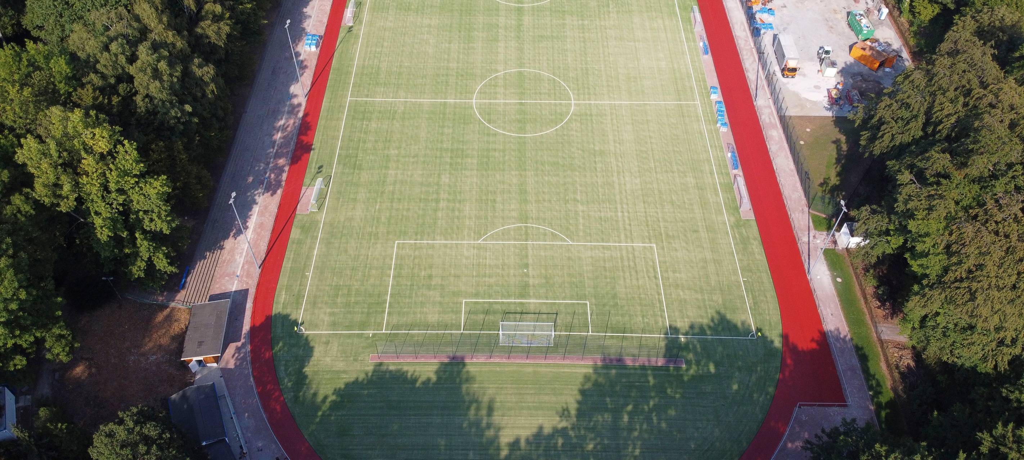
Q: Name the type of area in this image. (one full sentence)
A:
The area seen from above is a sports ground.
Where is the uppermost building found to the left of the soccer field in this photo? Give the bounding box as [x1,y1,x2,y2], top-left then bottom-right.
[175,299,229,373]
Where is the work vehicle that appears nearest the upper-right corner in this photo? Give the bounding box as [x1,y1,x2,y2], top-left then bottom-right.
[817,48,831,64]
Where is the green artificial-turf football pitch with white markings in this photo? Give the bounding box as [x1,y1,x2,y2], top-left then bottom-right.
[271,0,781,460]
